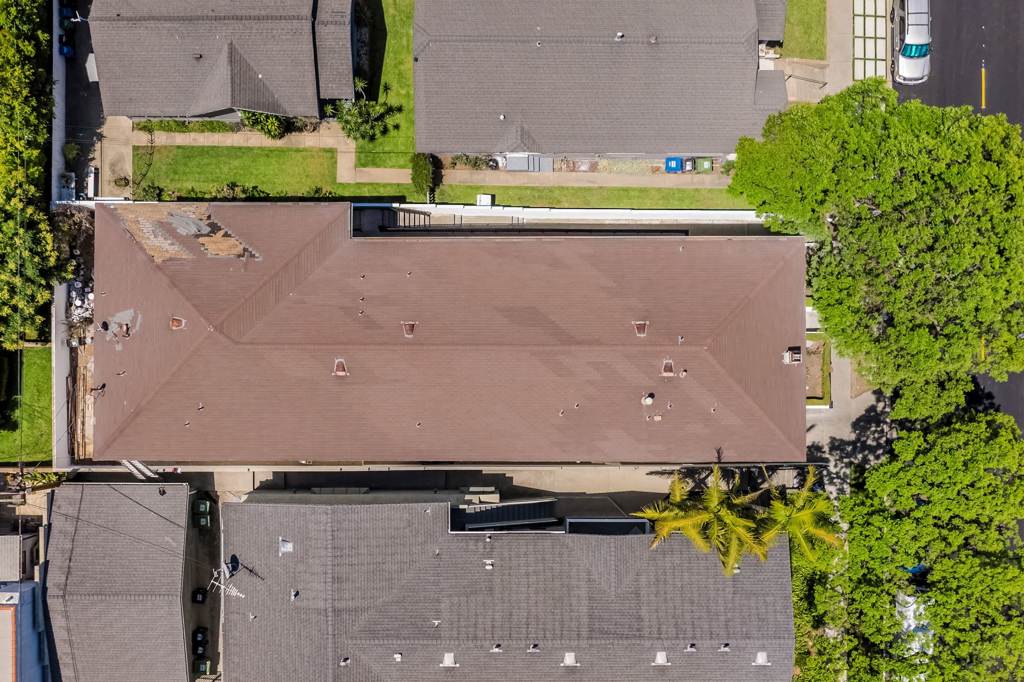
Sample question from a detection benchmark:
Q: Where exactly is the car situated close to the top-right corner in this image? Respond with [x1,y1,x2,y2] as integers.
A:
[894,0,938,88]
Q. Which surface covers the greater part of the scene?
buildings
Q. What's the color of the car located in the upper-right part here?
white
